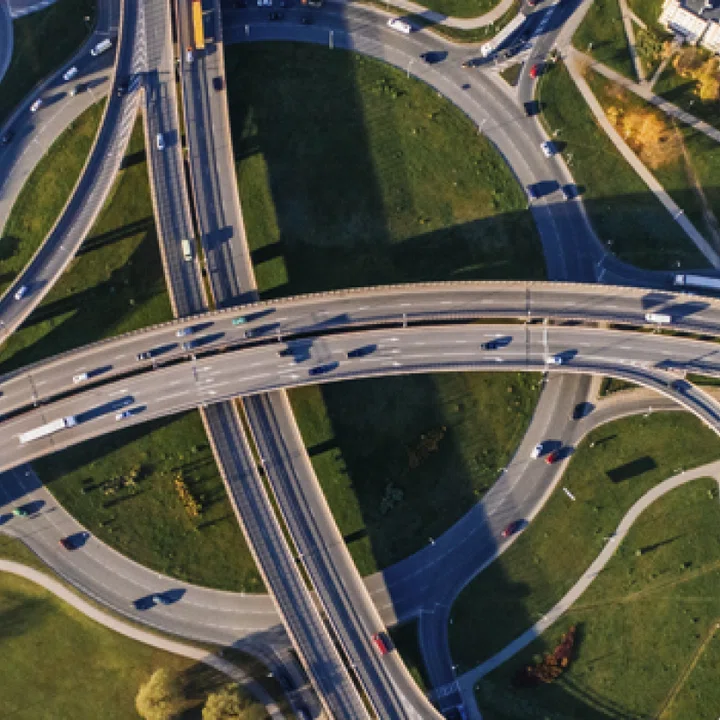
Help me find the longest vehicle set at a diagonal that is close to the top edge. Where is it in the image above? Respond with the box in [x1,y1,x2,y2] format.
[482,6,531,54]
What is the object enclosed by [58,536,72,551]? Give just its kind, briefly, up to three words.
car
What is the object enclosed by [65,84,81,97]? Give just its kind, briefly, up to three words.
vehicle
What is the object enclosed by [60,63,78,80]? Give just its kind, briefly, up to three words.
vehicle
